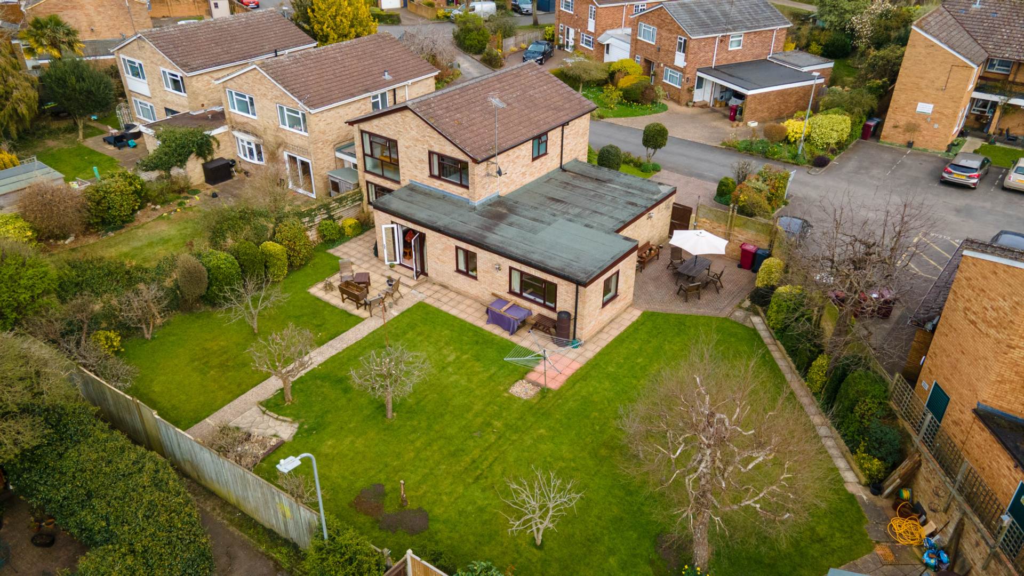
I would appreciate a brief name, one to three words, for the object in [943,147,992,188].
car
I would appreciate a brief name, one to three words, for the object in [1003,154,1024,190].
car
